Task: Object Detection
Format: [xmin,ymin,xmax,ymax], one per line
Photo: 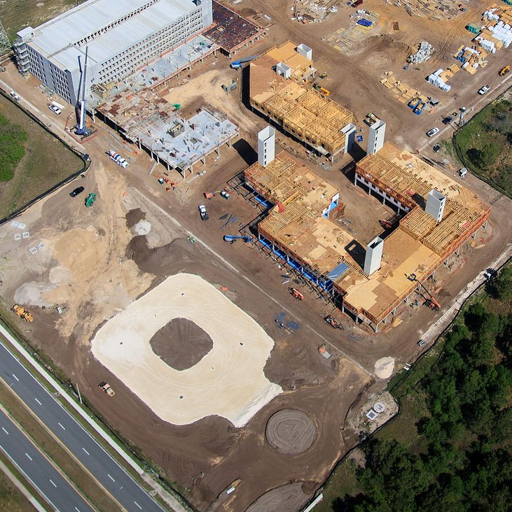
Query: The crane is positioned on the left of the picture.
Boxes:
[71,44,97,141]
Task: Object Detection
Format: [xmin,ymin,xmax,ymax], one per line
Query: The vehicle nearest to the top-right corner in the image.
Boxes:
[497,60,512,78]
